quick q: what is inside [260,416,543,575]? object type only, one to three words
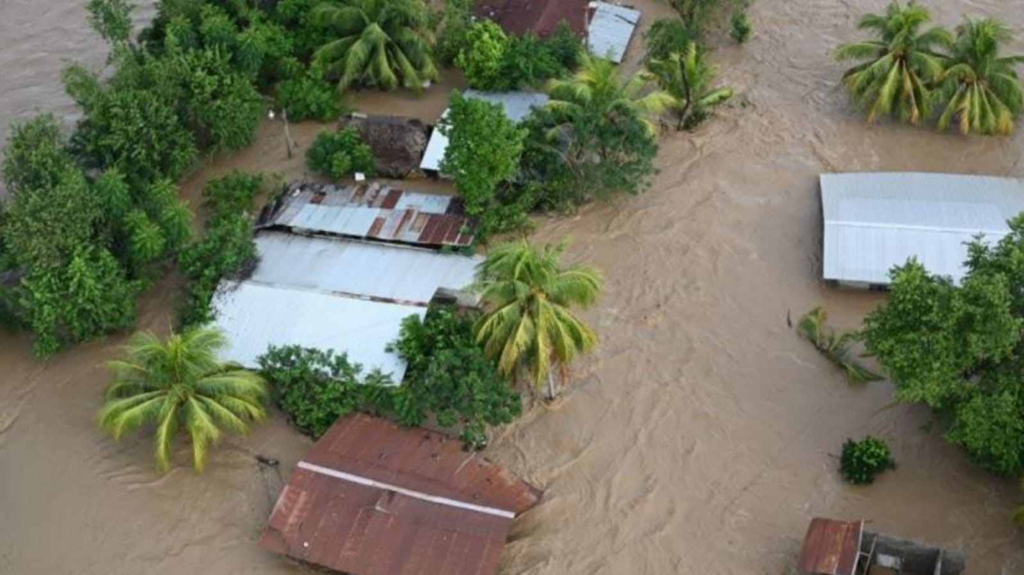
house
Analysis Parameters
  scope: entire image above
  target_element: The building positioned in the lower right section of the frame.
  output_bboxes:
[798,519,965,575]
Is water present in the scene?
Yes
